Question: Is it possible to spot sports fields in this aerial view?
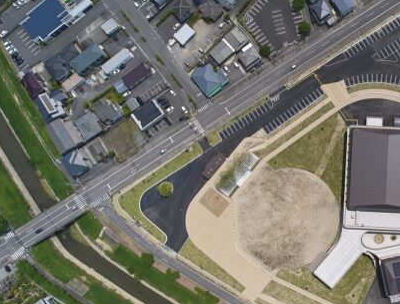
Yes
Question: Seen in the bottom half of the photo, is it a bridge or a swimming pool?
bridge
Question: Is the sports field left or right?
right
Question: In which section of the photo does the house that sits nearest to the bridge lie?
left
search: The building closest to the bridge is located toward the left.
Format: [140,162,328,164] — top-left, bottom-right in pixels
[60,150,93,178]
